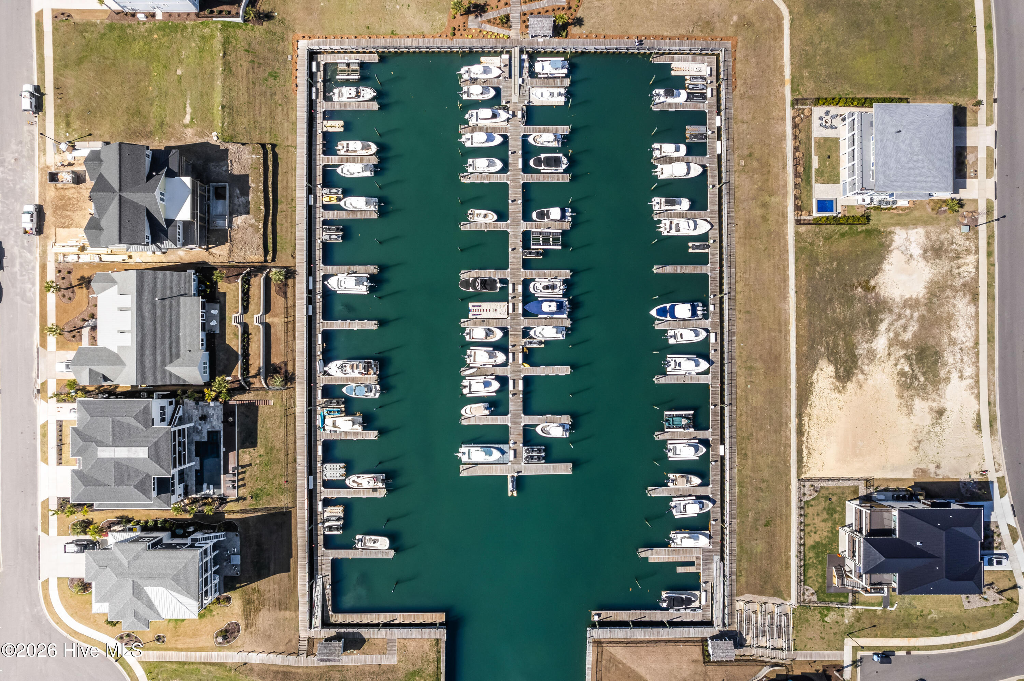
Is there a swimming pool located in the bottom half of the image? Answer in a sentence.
Yes, I can see a swimming pool in the bottom half of the image.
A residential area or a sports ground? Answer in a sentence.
What you see here is a residential area.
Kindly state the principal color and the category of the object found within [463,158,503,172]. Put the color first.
white boat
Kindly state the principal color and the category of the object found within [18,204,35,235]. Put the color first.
white vehicle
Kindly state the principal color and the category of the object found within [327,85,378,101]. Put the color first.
white boat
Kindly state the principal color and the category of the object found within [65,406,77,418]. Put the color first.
white vehicle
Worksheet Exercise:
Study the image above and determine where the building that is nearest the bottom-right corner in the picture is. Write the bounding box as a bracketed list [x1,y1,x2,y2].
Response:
[826,500,983,595]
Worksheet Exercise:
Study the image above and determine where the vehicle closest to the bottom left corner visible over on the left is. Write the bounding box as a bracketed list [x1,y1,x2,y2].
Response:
[62,542,96,556]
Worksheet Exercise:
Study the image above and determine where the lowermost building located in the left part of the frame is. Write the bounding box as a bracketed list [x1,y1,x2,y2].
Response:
[317,637,345,662]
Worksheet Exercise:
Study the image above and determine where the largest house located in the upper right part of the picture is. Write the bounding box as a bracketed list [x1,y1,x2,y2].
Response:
[836,103,954,204]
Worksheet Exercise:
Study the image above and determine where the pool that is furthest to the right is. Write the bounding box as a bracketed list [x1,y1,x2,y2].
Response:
[813,197,838,216]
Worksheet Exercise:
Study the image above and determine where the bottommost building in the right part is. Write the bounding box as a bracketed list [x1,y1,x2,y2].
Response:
[708,635,736,661]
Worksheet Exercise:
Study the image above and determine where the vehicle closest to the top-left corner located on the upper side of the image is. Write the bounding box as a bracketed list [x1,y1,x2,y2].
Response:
[14,82,36,111]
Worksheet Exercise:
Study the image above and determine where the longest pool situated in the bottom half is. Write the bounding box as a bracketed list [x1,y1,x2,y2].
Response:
[193,430,223,497]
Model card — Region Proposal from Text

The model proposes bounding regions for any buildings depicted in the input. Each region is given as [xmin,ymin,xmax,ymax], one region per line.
[708,635,736,661]
[84,528,231,631]
[84,142,223,255]
[115,0,210,20]
[69,270,210,385]
[70,397,197,510]
[836,103,954,204]
[826,500,983,595]
[529,14,553,40]
[317,637,345,662]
